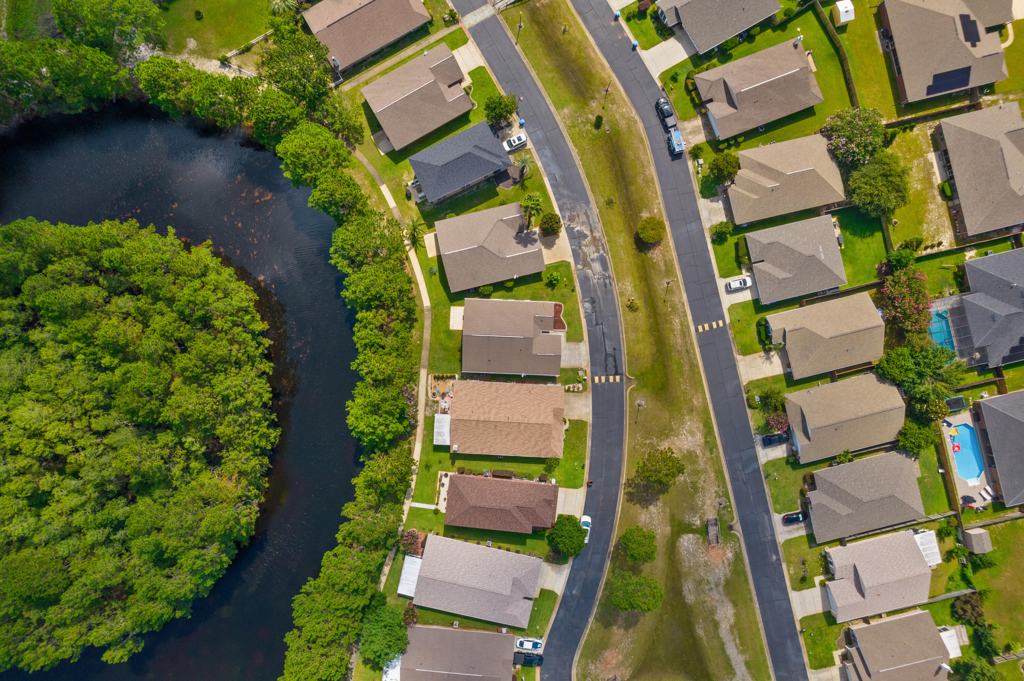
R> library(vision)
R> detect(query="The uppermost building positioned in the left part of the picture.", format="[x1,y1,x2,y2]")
[302,0,431,74]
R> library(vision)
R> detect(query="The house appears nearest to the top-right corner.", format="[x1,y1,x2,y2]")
[878,0,1015,104]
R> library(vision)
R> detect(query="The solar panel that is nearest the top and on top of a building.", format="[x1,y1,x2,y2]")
[960,13,980,41]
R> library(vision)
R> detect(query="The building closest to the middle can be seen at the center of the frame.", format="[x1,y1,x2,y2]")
[462,298,561,376]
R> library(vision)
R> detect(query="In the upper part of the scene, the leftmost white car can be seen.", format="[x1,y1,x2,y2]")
[501,134,529,151]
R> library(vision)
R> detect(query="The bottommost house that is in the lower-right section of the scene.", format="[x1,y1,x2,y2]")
[842,610,957,681]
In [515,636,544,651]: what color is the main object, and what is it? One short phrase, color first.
white car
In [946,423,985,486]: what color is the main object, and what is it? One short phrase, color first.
blue swimming pool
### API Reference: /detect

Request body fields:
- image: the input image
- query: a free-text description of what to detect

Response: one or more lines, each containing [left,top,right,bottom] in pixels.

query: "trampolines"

[946,395,972,412]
